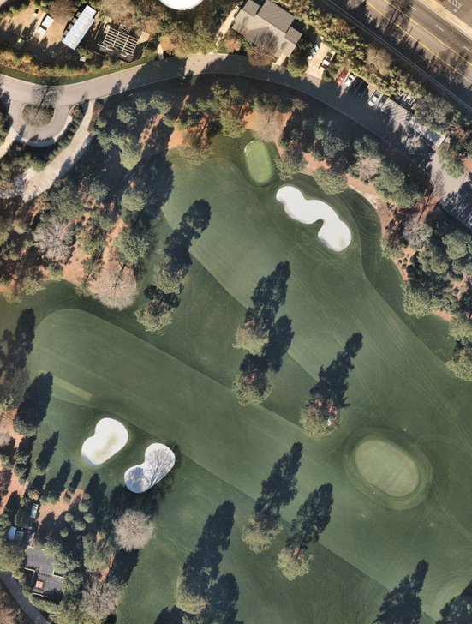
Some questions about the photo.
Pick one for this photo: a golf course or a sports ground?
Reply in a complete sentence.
The area seen from above is a golf course.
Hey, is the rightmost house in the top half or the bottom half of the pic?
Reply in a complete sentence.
Seen from above, the rightmost house lies in the top half of the view.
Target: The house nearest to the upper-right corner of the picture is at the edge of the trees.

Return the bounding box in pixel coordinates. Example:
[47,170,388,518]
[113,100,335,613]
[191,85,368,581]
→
[230,0,305,62]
